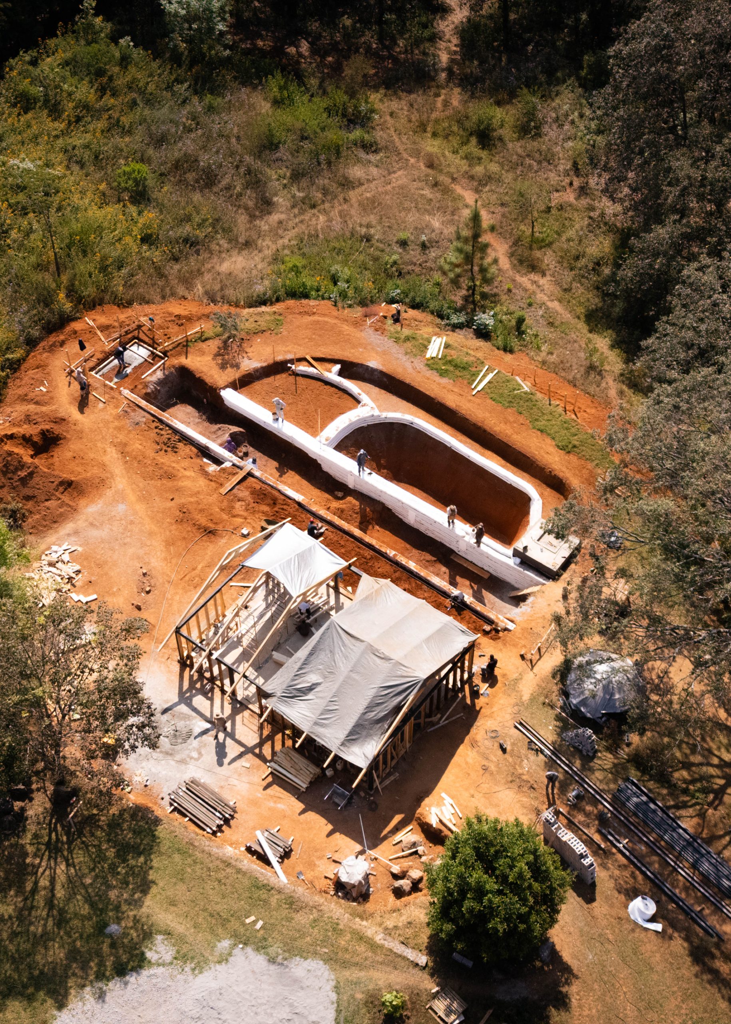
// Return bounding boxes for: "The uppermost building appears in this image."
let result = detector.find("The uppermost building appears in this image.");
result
[153,520,484,790]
